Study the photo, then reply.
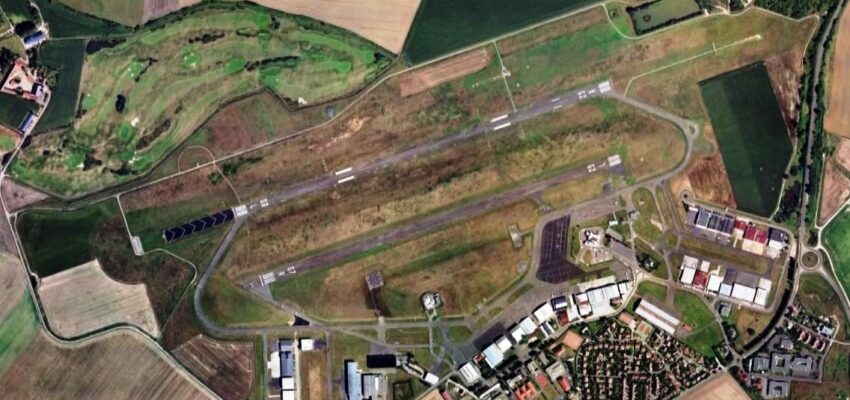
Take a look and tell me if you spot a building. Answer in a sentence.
Yes, there's a building here.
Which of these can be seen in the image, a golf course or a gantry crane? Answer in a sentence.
There is a golf course in the scene.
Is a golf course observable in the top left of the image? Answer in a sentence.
Yes, a golf course is visible in the top left of the image.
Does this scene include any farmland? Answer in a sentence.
Yes, farmland can be seen from above here.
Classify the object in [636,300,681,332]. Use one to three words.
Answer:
hangar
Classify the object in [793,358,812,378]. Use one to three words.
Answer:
building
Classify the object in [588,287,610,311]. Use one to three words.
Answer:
hangar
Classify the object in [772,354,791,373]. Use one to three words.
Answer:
building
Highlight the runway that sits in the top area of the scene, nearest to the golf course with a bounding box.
[164,79,618,241]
